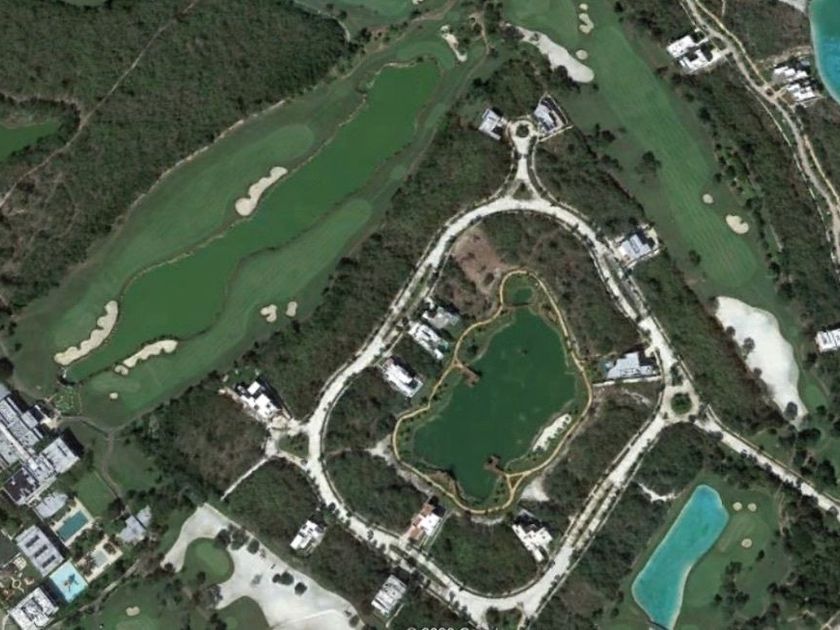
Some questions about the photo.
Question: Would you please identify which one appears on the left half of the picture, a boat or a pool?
pool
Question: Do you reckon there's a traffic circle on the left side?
No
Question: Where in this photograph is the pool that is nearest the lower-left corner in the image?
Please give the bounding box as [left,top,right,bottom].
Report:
[50,562,88,603]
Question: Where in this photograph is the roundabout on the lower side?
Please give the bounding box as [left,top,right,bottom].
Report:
[662,386,700,422]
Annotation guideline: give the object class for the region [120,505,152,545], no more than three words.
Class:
building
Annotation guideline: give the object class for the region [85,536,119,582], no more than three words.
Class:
swimming pool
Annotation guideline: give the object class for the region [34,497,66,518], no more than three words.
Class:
building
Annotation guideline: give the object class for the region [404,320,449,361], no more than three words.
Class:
house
